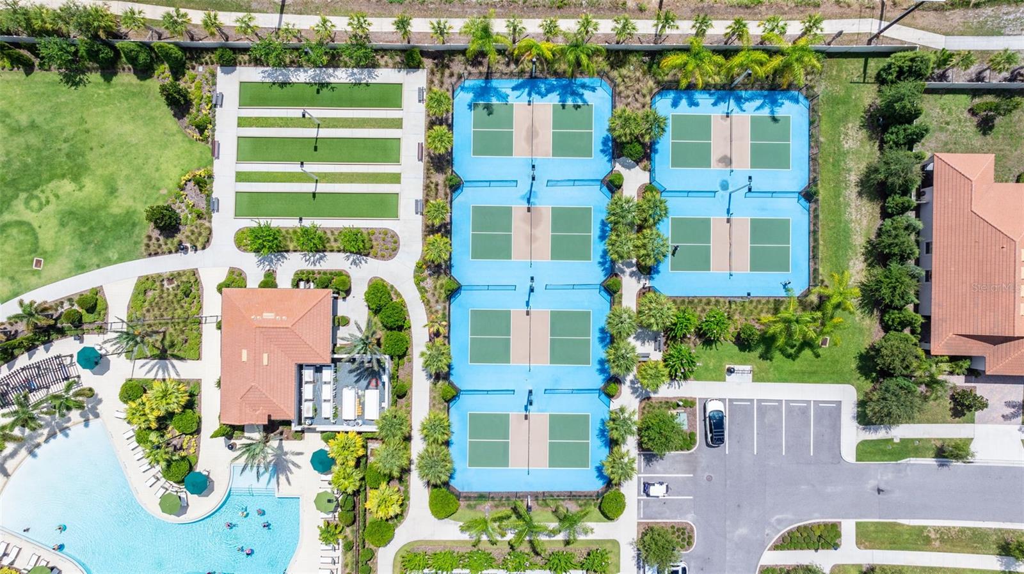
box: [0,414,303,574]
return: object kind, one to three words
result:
swimming pool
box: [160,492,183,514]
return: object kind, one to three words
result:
umbrella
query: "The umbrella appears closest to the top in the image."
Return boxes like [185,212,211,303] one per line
[78,346,104,369]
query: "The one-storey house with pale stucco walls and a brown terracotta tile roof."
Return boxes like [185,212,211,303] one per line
[910,152,1024,375]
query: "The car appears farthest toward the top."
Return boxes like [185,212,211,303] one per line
[703,399,727,446]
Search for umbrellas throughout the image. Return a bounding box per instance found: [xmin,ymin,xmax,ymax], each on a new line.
[315,490,338,513]
[160,492,183,514]
[78,346,104,369]
[311,449,334,472]
[186,471,209,494]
